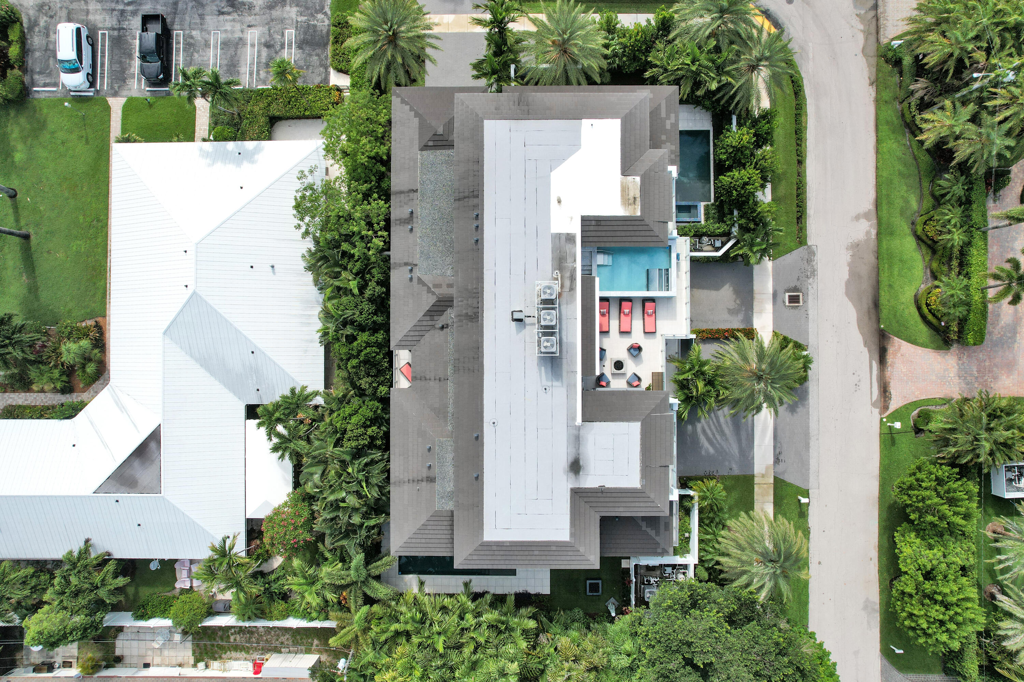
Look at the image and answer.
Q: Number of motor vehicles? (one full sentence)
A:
In total, 2 motor vehicles can be seen.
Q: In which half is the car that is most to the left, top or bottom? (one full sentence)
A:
It is in the top half that the car that is most to the left appears.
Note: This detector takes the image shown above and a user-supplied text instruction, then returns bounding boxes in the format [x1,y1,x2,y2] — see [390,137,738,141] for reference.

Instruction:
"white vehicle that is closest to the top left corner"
[54,22,94,92]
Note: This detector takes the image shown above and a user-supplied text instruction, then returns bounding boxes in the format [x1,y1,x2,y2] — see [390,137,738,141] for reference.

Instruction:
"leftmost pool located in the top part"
[590,239,676,298]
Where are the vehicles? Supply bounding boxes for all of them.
[136,12,174,84]
[54,22,94,92]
